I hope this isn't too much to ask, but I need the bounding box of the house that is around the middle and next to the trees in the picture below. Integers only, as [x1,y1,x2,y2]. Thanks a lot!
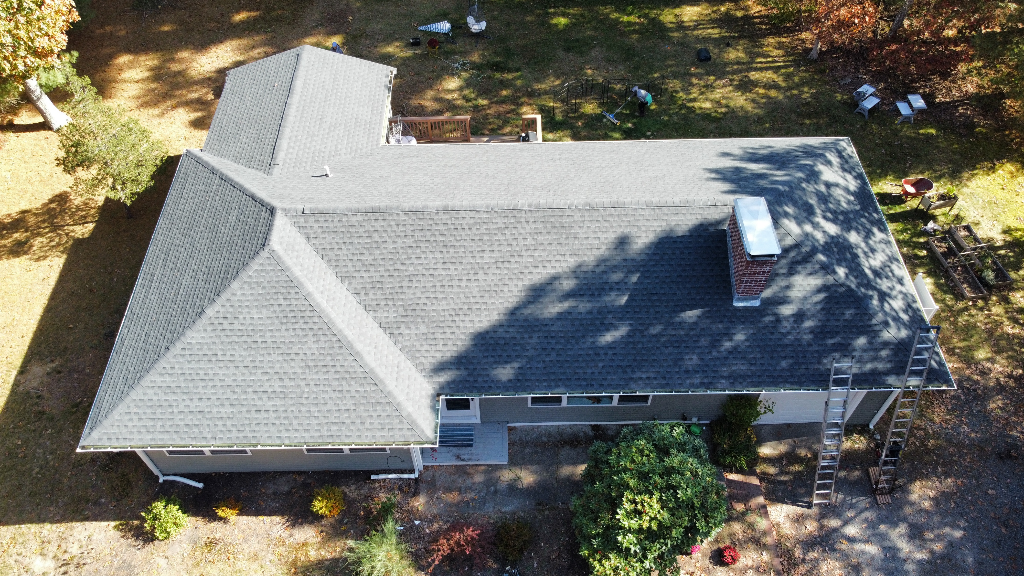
[79,44,953,488]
